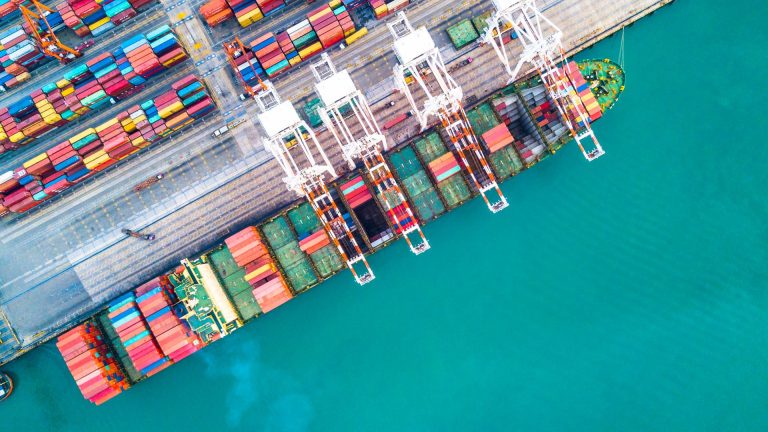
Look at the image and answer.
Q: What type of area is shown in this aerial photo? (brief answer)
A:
port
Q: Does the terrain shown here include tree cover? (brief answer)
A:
No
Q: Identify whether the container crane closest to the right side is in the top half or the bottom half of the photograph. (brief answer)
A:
top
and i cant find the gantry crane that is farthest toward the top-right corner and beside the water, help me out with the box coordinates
[475,0,604,164]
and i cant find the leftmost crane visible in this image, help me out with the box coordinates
[16,0,88,63]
